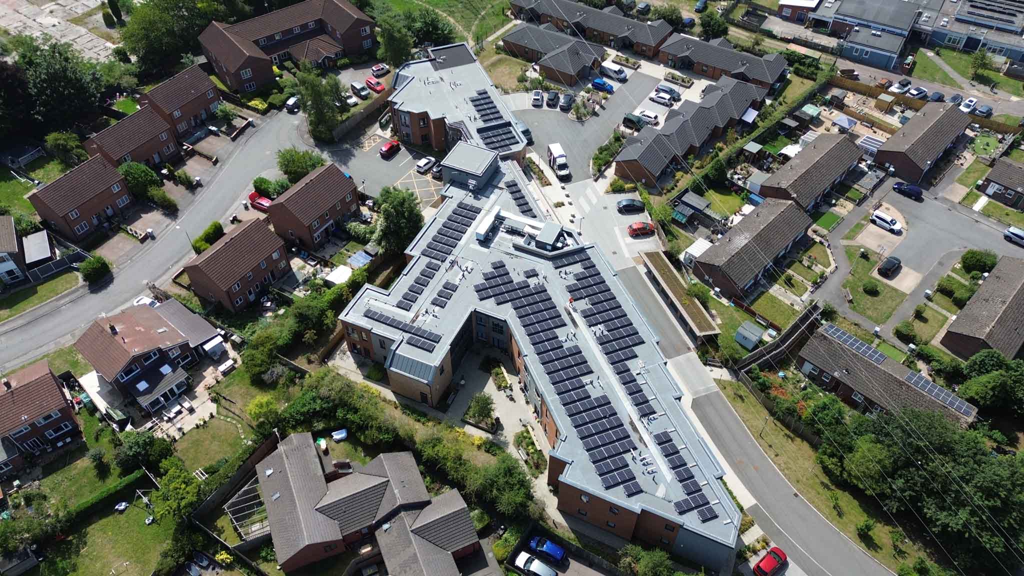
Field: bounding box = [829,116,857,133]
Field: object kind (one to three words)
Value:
gazebo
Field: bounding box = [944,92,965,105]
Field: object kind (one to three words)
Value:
vehicle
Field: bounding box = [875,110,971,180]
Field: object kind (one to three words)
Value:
house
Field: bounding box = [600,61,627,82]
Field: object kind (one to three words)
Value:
vehicle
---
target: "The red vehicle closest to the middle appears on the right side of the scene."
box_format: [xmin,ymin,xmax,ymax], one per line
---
[628,224,655,237]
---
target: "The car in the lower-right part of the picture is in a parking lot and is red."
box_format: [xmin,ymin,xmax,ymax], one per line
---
[750,546,789,576]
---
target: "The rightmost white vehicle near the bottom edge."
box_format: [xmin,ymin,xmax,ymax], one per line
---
[516,552,557,576]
